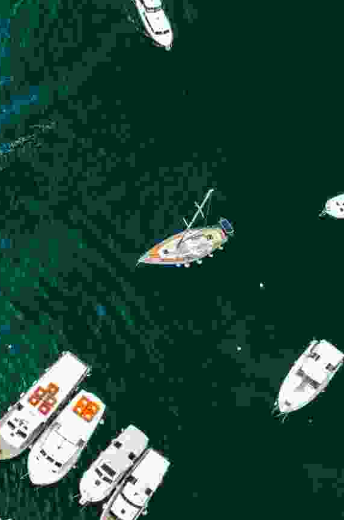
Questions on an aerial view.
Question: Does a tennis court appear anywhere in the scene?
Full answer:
No, there is no tennis court in the image.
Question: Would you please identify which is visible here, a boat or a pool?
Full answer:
Visible in the photo is a boat.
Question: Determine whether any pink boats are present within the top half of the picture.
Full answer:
No, I see no pink boat within the top half of the picture.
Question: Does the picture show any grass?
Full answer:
No, no grass is visible.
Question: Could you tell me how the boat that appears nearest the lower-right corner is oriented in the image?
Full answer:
The boat that appears nearest the lower-right corner runs at an angle in the image.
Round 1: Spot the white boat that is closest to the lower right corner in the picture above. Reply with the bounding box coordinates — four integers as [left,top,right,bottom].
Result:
[275,338,341,412]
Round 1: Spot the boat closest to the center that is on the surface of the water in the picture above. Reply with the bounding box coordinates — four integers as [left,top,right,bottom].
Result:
[136,197,233,267]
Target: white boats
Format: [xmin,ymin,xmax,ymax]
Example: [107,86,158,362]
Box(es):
[101,447,171,520]
[78,422,150,510]
[0,346,91,457]
[322,197,344,219]
[275,338,341,412]
[33,387,108,484]
[139,0,173,51]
